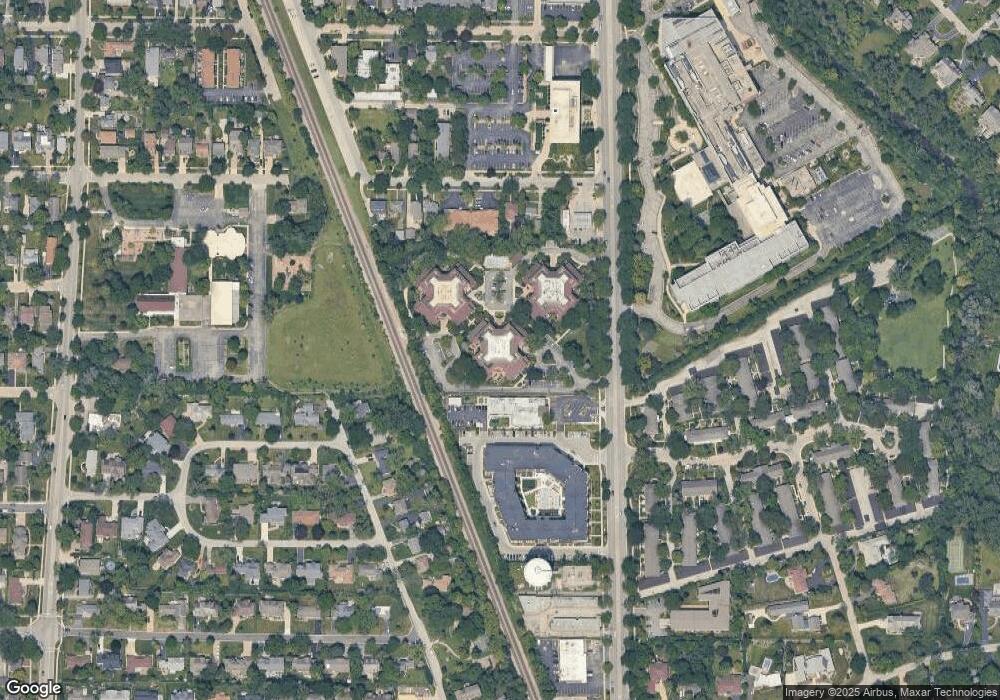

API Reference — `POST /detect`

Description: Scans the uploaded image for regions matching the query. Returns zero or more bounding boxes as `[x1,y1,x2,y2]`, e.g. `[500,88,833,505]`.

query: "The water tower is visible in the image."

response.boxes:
[523,556,553,592]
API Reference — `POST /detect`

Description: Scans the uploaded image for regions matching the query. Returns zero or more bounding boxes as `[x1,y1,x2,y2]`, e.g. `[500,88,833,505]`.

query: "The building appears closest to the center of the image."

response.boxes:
[469,314,531,379]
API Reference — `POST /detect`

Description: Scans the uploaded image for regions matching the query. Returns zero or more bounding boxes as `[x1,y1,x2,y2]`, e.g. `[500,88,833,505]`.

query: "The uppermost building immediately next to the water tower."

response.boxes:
[484,442,590,546]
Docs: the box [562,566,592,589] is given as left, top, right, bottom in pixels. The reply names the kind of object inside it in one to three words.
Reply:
building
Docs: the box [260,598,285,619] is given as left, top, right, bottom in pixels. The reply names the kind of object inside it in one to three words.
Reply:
house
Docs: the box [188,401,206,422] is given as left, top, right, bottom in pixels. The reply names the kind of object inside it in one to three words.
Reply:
house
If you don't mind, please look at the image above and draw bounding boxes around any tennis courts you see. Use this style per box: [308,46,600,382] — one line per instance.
[947,538,965,573]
